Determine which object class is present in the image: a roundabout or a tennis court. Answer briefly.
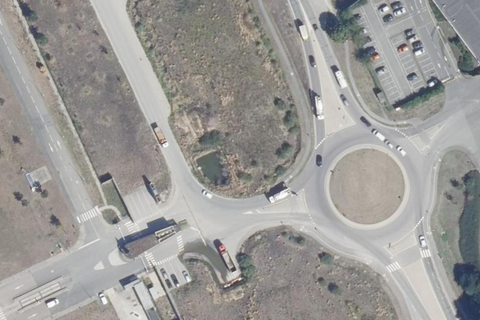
roundabout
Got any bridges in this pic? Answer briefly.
No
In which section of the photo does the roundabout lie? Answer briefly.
right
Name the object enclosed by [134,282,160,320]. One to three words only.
building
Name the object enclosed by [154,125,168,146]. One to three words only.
vehicle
